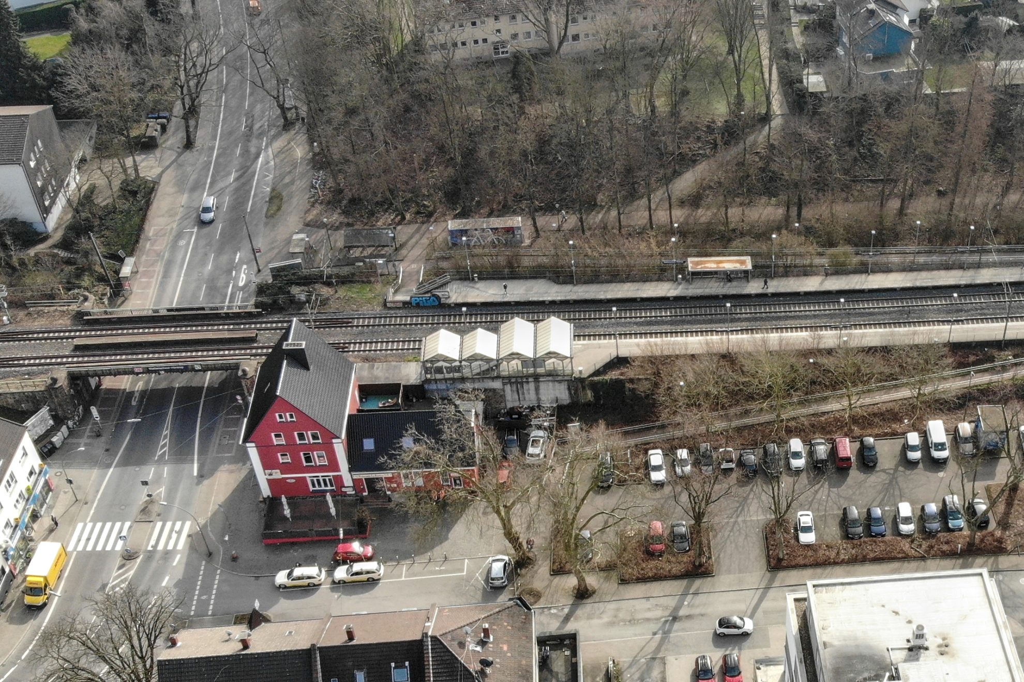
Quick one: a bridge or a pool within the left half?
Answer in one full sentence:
Looking within the left half, you will find a bridge.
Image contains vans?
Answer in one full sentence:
Yes, there's a van here.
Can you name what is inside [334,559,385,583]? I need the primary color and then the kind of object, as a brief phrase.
white car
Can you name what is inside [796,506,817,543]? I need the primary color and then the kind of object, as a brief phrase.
white car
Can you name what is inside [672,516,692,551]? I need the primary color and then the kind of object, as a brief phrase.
gray car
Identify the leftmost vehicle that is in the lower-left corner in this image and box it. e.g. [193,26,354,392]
[21,536,72,608]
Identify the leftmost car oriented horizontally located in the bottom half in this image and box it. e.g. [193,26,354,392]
[277,566,328,590]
